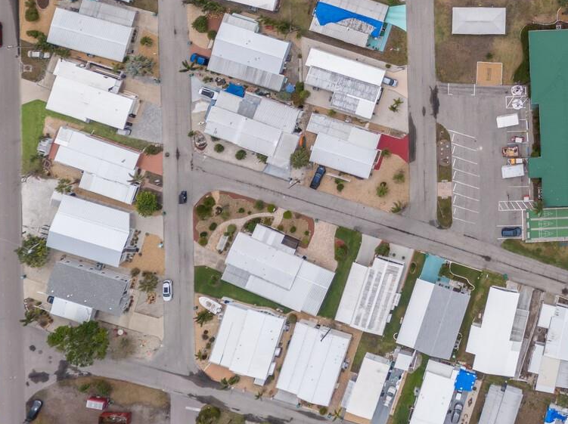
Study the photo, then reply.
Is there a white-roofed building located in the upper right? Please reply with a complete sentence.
Yes, I can see a white-roofed building in the upper right.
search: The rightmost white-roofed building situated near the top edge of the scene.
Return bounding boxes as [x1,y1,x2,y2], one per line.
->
[452,7,505,34]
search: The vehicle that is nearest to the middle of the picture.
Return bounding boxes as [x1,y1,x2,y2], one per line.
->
[308,165,325,190]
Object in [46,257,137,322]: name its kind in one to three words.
house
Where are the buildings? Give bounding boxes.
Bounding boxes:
[54,126,145,204]
[335,255,405,335]
[46,257,137,322]
[47,194,136,267]
[396,278,470,359]
[47,0,138,61]
[222,222,337,315]
[528,30,568,208]
[276,320,353,406]
[46,59,139,129]
[544,404,568,424]
[410,358,476,424]
[209,296,287,386]
[466,285,529,377]
[205,83,303,169]
[341,351,412,419]
[528,302,568,393]
[307,113,383,178]
[305,48,386,119]
[309,0,390,47]
[481,380,523,424]
[452,7,505,34]
[208,14,293,91]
